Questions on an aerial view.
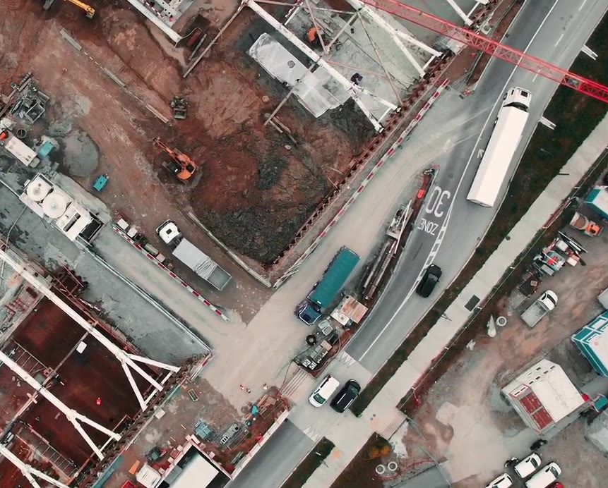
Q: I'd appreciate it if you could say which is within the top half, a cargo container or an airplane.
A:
cargo container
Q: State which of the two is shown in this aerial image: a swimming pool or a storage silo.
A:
storage silo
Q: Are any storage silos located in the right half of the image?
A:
No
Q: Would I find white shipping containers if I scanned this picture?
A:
Yes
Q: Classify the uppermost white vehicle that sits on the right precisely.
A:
truck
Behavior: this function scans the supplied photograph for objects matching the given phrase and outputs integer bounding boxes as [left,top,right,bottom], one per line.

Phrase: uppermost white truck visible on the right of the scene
[463,89,532,210]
